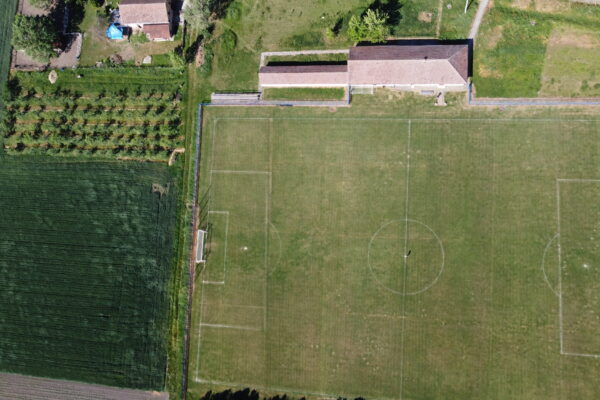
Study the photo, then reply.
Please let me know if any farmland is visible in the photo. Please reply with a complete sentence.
Yes, there's farmland in this view.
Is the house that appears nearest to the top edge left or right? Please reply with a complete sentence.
The house that appears nearest to the top edge appears in the left half of the scene.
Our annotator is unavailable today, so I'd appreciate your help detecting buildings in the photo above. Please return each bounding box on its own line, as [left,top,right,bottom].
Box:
[115,0,175,42]
[347,44,469,89]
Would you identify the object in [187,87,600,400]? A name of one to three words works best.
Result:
soccer field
